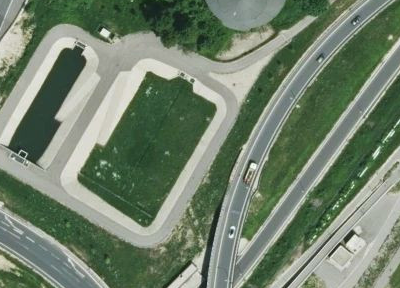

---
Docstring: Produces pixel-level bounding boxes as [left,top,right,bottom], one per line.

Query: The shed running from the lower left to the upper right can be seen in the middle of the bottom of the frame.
[166,262,198,288]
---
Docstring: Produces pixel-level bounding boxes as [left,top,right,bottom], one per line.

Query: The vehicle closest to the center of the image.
[244,162,257,185]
